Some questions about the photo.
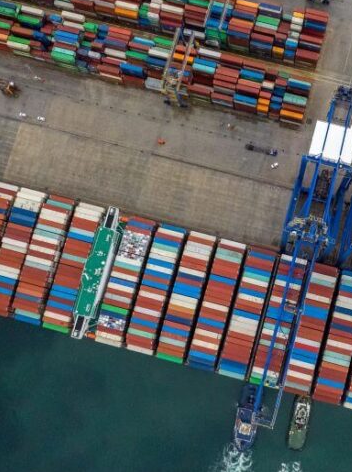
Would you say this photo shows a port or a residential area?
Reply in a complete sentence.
This image shows a port.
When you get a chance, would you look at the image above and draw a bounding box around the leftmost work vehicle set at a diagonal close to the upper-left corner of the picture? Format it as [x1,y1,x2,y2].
[0,74,19,93]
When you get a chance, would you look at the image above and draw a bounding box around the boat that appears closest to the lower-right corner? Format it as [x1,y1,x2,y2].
[286,393,315,453]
